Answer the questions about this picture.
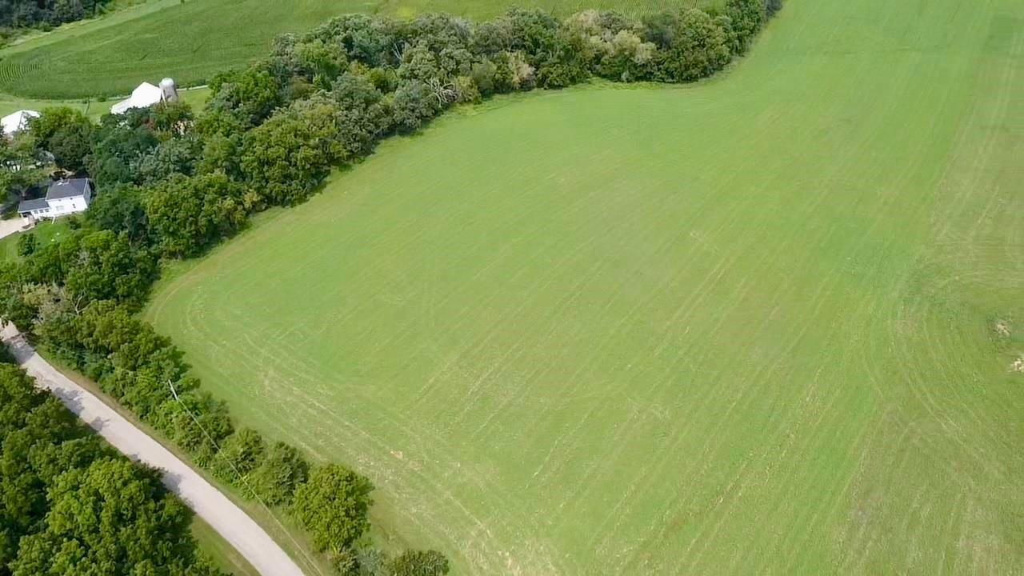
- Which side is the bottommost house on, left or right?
left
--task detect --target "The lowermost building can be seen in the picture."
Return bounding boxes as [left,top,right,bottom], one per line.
[16,181,89,222]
